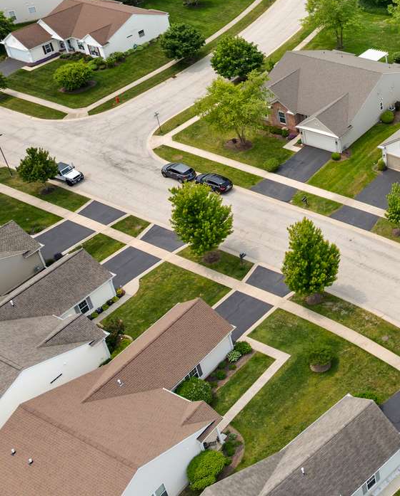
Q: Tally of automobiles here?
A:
3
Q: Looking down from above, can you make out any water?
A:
No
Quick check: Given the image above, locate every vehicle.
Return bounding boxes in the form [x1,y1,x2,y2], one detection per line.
[51,158,84,187]
[191,173,235,196]
[156,161,199,185]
